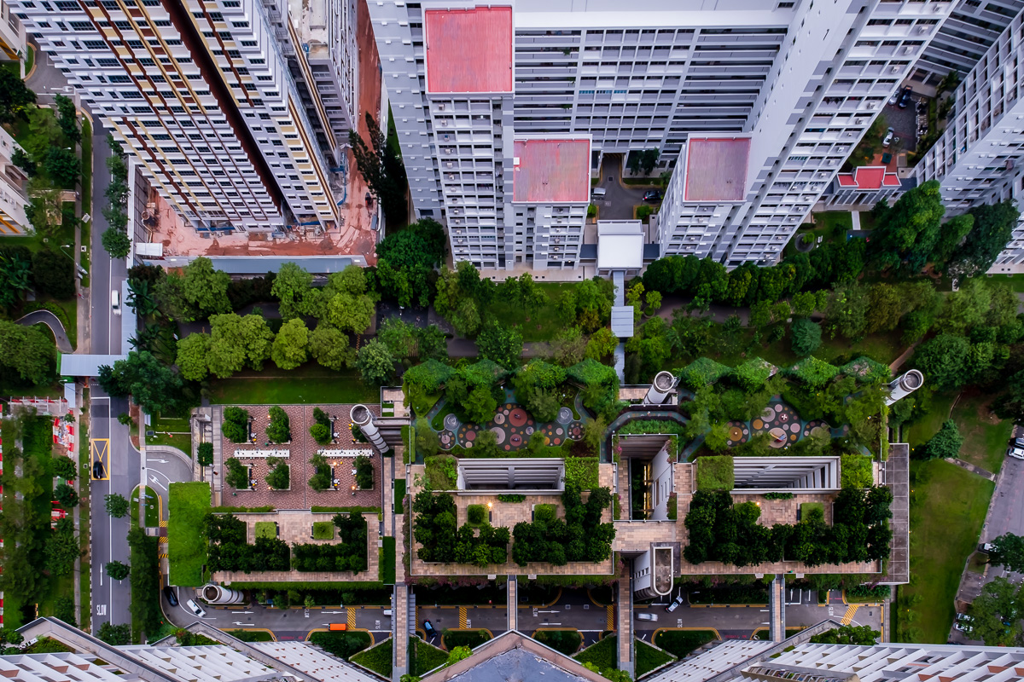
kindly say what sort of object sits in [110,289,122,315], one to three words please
vehicle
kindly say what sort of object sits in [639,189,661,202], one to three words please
vehicle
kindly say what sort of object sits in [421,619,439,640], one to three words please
car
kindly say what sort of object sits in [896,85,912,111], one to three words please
car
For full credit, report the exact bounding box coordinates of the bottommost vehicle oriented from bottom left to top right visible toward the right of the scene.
[663,594,684,614]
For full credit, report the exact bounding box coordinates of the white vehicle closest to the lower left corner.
[185,597,208,618]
